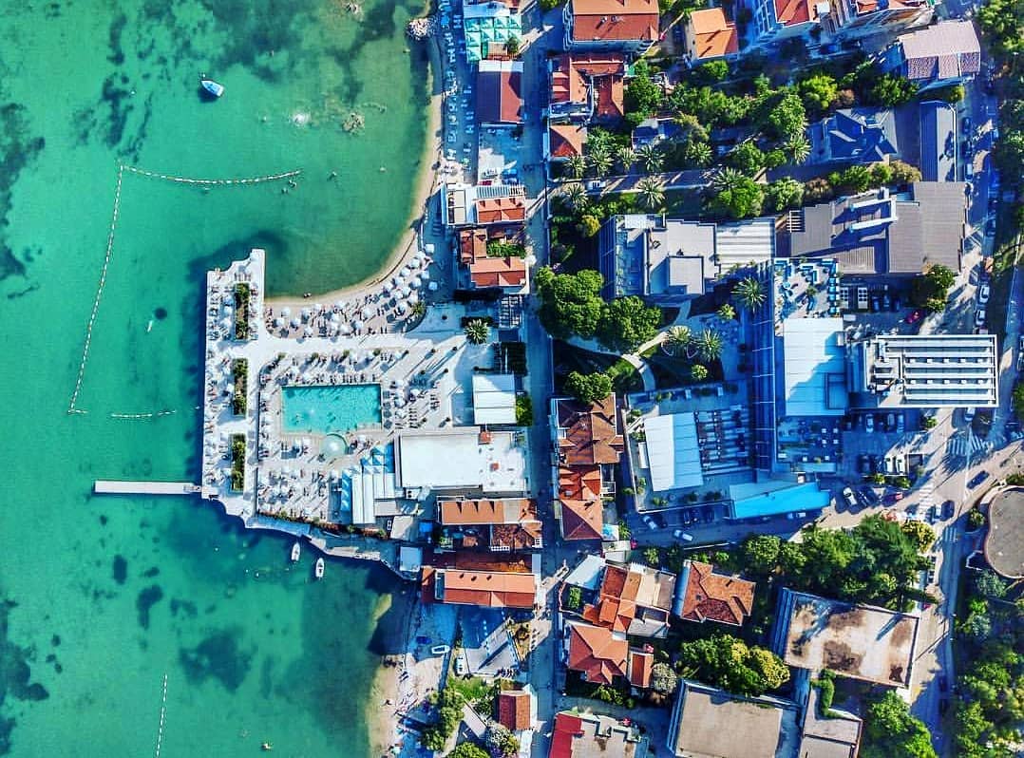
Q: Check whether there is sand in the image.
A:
Yes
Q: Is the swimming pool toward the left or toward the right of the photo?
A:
left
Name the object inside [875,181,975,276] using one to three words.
building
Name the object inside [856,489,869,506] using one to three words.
vehicle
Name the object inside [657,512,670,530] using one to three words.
vehicle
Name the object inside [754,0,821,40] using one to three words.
house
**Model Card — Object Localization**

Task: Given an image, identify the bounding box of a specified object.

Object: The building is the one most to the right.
[967,477,1024,578]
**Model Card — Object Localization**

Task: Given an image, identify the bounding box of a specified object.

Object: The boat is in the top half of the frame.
[201,80,224,98]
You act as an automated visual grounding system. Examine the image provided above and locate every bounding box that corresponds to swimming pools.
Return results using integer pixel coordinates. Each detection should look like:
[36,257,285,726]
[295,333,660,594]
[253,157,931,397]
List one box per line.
[280,381,384,436]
